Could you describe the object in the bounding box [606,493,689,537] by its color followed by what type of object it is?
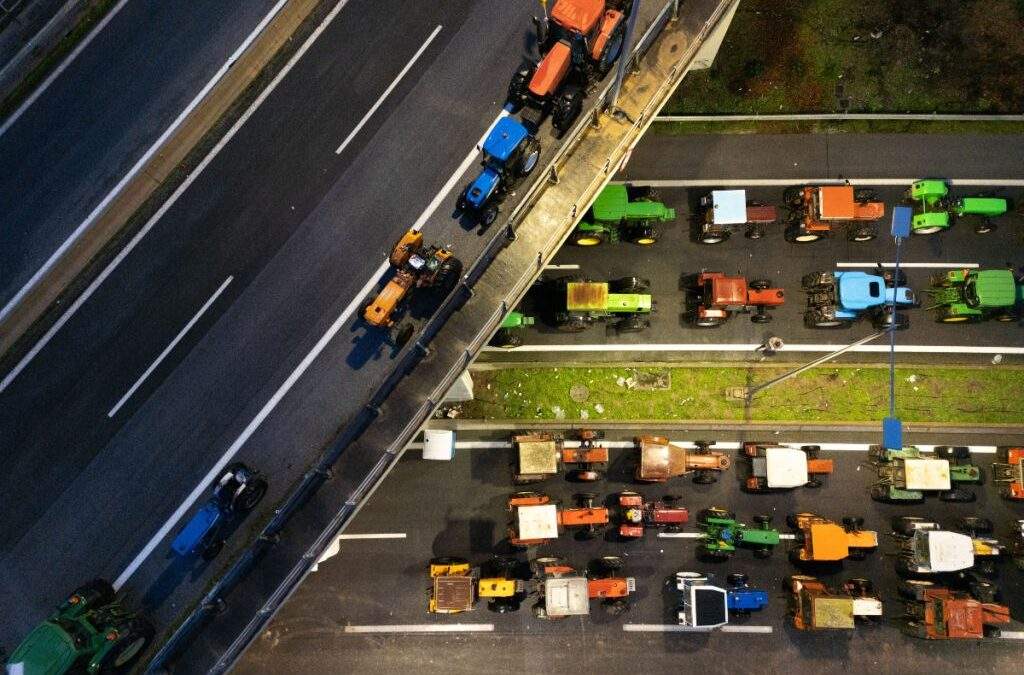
red work vehicle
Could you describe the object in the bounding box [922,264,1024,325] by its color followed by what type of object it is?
green work vehicle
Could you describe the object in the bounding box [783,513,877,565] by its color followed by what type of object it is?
orange work vehicle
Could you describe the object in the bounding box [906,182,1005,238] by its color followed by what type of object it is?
green work vehicle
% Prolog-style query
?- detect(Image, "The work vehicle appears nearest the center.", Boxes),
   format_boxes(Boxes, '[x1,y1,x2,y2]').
[496,305,528,346]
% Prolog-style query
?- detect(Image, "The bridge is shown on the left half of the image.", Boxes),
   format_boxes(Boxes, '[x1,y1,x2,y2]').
[0,0,743,675]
